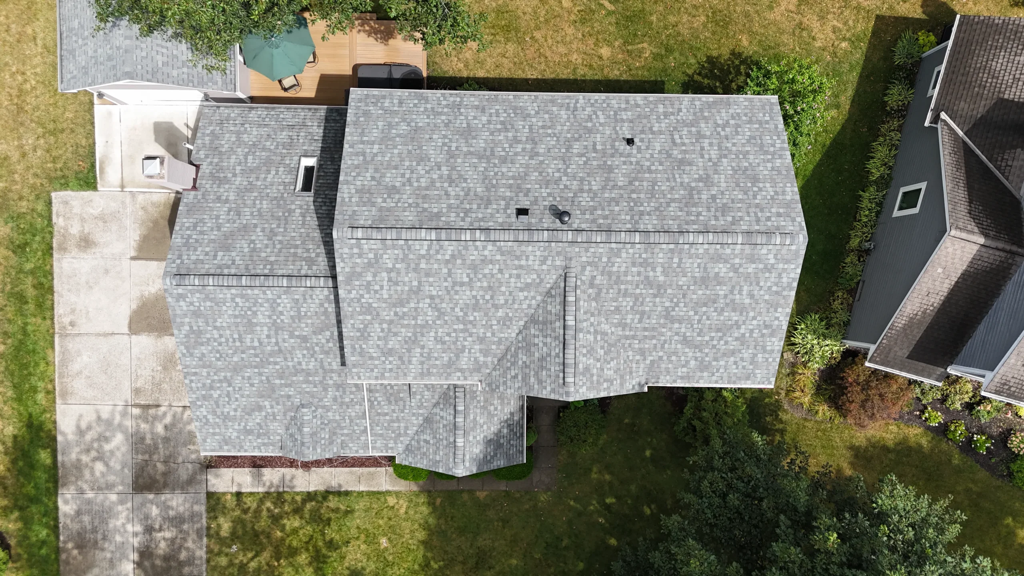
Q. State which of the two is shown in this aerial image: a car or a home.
home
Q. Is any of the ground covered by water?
No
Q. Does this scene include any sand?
No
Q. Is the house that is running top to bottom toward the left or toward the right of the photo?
right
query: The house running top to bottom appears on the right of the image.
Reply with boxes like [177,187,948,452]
[841,15,1024,407]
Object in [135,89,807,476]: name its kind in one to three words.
house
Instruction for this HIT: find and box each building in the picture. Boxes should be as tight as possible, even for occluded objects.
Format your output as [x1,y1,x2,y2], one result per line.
[841,15,1024,407]
[135,89,807,476]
